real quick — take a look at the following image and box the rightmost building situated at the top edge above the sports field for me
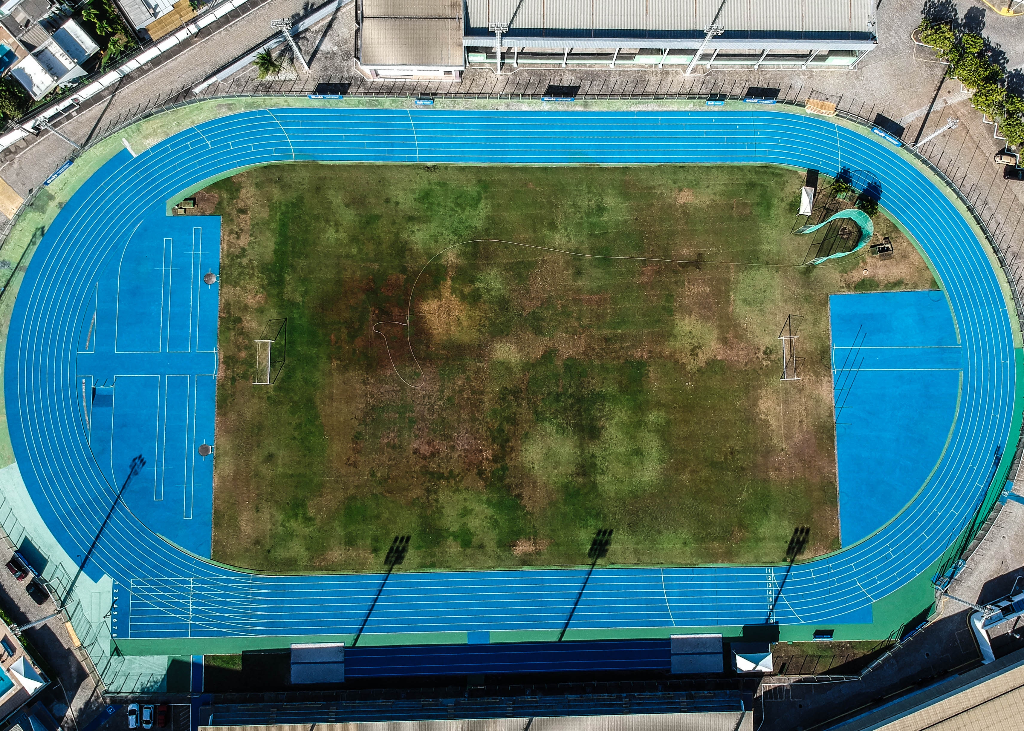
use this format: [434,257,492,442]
[355,0,465,80]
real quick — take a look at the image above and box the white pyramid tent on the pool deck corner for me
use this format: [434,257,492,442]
[10,653,51,695]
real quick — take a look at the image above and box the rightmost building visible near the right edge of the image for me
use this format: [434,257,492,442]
[973,587,1024,639]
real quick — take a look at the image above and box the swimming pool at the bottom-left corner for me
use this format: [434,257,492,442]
[0,623,48,722]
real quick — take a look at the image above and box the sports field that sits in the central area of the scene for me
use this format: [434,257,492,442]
[177,165,940,572]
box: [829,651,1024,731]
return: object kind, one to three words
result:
building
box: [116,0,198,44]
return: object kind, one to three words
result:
house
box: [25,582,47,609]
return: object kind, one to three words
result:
car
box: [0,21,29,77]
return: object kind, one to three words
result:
swimming pool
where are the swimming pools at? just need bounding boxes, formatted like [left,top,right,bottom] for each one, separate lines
[0,623,48,722]
[0,21,29,77]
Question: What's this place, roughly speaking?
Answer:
sports ground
